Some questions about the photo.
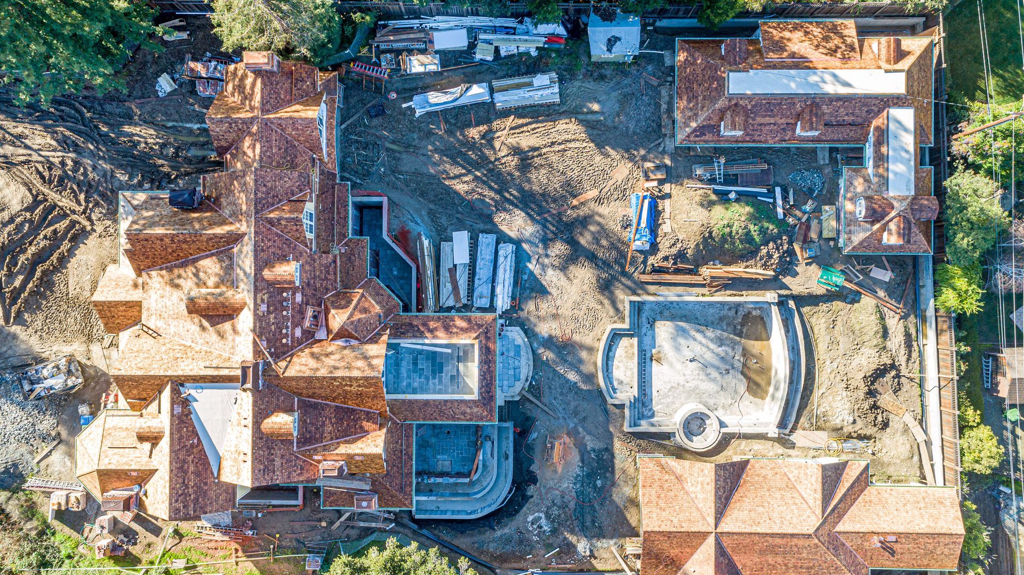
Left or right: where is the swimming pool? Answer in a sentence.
It is on the right.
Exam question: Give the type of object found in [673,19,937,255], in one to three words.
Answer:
house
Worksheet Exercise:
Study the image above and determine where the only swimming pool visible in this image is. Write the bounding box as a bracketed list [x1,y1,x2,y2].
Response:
[598,294,807,452]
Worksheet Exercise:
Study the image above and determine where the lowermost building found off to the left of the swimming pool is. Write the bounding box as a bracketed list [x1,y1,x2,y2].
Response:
[74,50,499,521]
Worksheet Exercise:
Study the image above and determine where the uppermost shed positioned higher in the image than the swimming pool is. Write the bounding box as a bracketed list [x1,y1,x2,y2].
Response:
[588,12,640,69]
